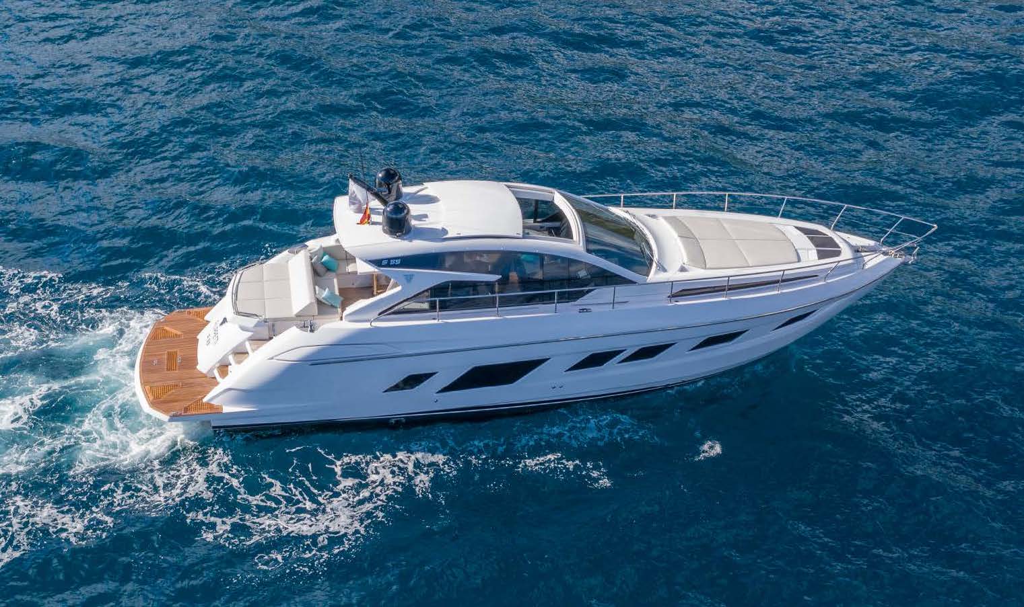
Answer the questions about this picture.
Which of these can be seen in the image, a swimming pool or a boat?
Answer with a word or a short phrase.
boat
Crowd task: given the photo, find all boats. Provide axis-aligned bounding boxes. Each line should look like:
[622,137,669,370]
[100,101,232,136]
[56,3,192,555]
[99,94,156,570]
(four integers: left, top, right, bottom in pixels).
[135,118,940,428]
